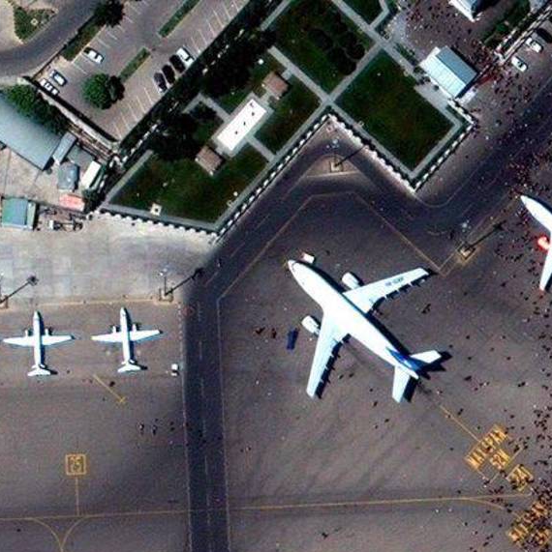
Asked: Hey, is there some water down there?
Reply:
No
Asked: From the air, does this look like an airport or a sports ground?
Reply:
airport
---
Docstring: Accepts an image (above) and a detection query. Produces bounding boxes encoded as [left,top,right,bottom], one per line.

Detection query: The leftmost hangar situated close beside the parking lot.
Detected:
[0,93,61,175]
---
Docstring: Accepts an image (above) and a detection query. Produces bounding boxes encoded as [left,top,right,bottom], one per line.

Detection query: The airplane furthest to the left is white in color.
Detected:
[3,312,74,375]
